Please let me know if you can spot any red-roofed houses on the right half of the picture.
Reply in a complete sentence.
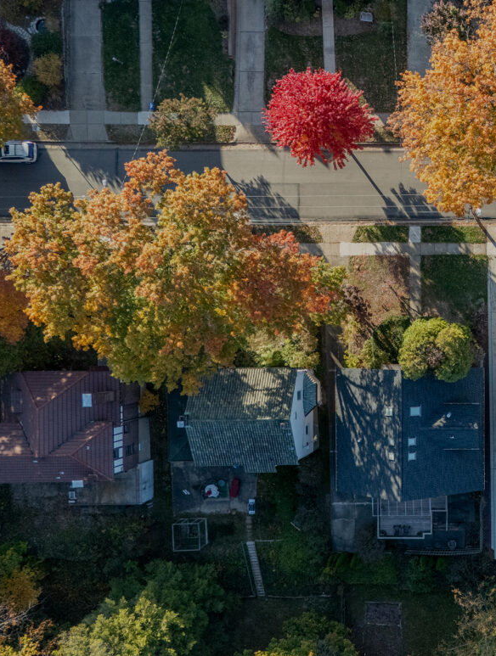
No, no red-roofed house can be made out on the right half of the picture.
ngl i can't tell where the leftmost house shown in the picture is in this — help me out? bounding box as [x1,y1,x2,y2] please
[0,370,161,507]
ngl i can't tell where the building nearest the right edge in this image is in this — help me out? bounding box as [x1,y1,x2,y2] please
[336,357,485,501]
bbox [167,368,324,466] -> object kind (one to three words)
house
